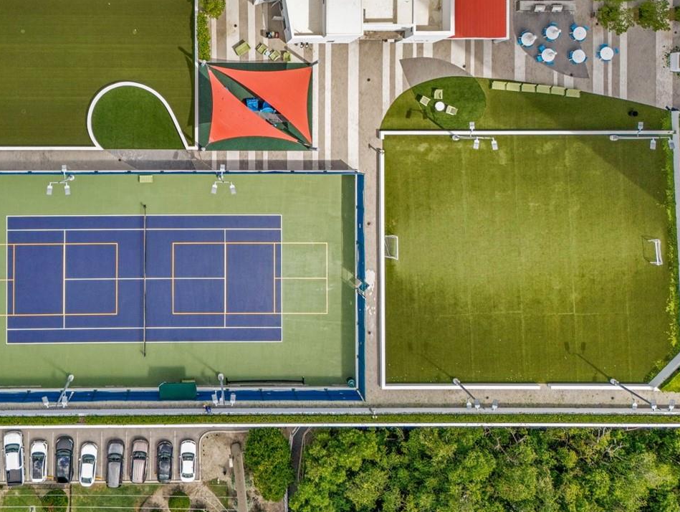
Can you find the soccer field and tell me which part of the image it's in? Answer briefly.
right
